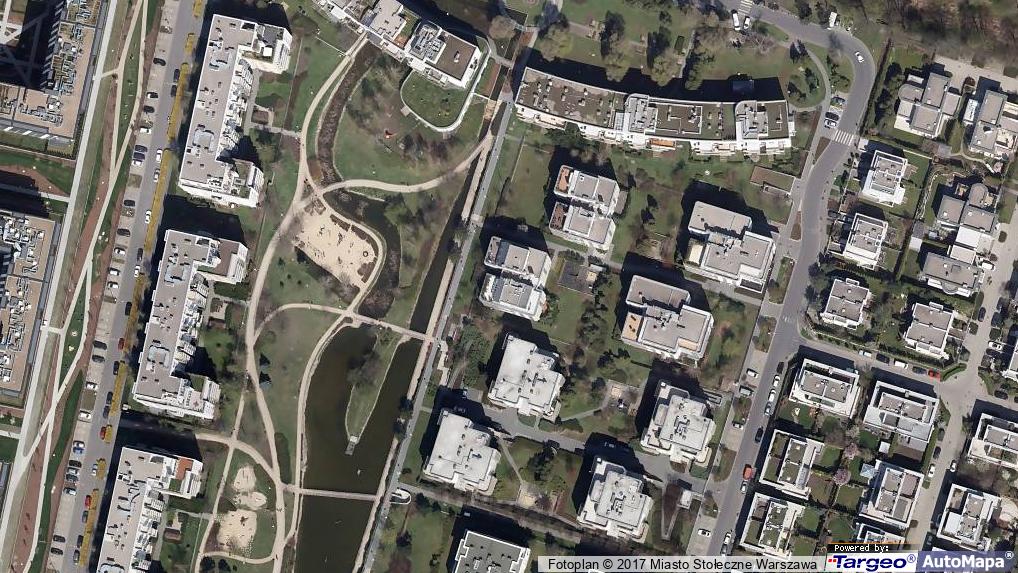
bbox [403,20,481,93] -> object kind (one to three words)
building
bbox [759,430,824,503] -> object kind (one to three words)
house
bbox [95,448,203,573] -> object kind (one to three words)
building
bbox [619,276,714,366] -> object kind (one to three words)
house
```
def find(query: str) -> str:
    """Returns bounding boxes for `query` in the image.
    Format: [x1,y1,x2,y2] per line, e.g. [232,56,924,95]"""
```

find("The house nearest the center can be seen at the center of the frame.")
[477,237,550,326]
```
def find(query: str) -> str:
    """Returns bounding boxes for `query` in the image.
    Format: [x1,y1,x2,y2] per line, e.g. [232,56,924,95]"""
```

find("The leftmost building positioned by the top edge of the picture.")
[0,0,113,151]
